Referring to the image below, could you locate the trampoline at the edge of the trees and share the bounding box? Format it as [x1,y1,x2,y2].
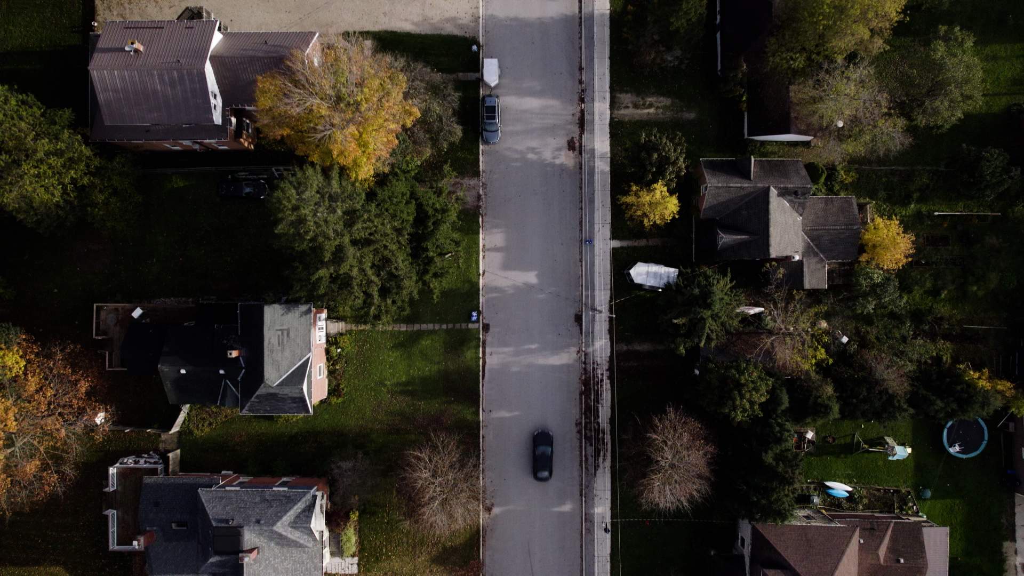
[939,416,987,460]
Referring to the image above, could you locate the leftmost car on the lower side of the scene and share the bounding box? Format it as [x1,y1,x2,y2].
[532,431,555,484]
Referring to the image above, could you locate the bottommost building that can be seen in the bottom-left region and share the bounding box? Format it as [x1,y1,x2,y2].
[134,470,342,576]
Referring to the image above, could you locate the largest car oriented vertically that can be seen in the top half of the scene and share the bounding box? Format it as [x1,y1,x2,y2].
[480,92,503,144]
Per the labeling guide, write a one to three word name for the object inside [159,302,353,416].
house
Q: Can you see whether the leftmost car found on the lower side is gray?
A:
No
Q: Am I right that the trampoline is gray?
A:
No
